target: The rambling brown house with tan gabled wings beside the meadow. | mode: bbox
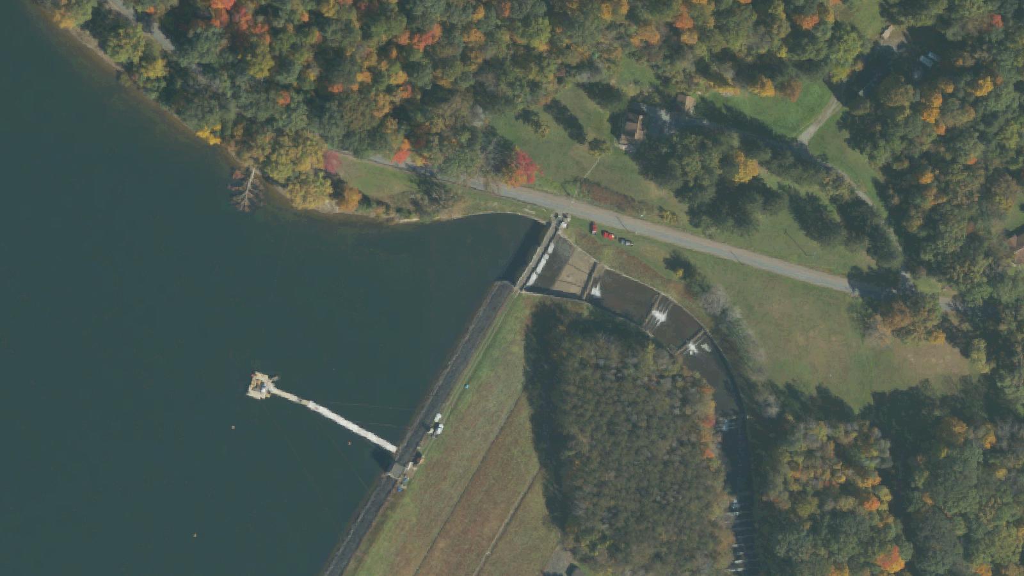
[619,116,647,147]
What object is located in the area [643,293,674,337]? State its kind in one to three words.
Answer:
dam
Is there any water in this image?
Yes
